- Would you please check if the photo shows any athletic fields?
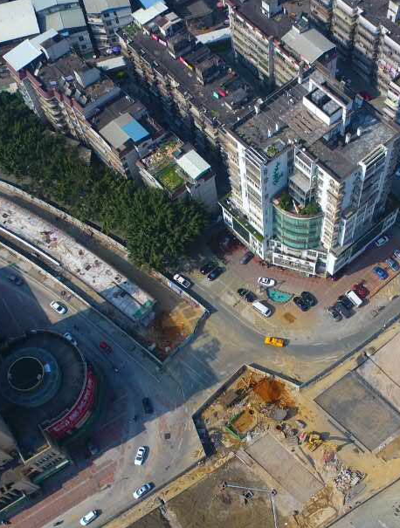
No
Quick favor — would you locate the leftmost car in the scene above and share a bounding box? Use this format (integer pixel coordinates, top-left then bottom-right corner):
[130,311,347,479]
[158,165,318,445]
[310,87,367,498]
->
[7,272,24,285]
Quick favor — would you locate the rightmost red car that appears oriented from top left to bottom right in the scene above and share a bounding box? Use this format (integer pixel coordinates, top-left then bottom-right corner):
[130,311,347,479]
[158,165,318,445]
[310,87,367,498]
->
[352,281,369,297]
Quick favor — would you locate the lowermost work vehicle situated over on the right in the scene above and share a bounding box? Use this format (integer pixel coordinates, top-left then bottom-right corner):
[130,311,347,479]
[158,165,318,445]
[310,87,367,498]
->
[303,430,334,454]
